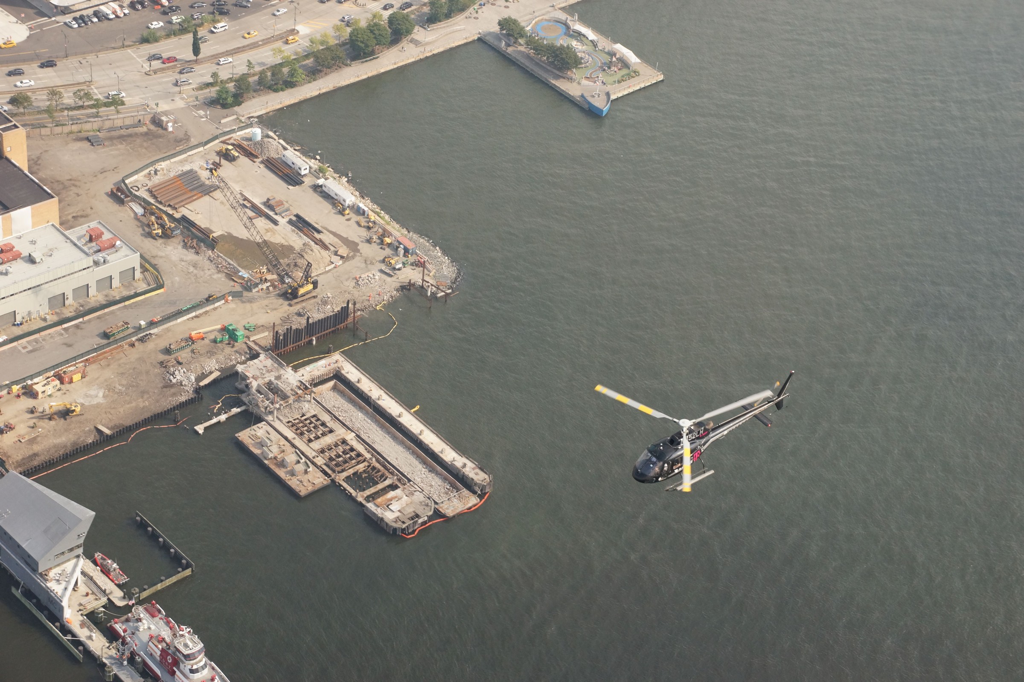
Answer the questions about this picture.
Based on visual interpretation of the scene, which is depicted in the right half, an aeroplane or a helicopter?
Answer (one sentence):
Visible in the right half is a helicopter.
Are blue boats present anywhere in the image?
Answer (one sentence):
No, the scene contains no blue boat.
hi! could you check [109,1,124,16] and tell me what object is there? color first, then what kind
white vehicle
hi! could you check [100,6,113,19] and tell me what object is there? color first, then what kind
white vehicle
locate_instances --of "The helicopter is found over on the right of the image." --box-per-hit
[596,368,798,494]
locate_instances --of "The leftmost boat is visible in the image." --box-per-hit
[95,553,129,587]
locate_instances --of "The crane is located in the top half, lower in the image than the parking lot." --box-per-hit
[209,166,324,303]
